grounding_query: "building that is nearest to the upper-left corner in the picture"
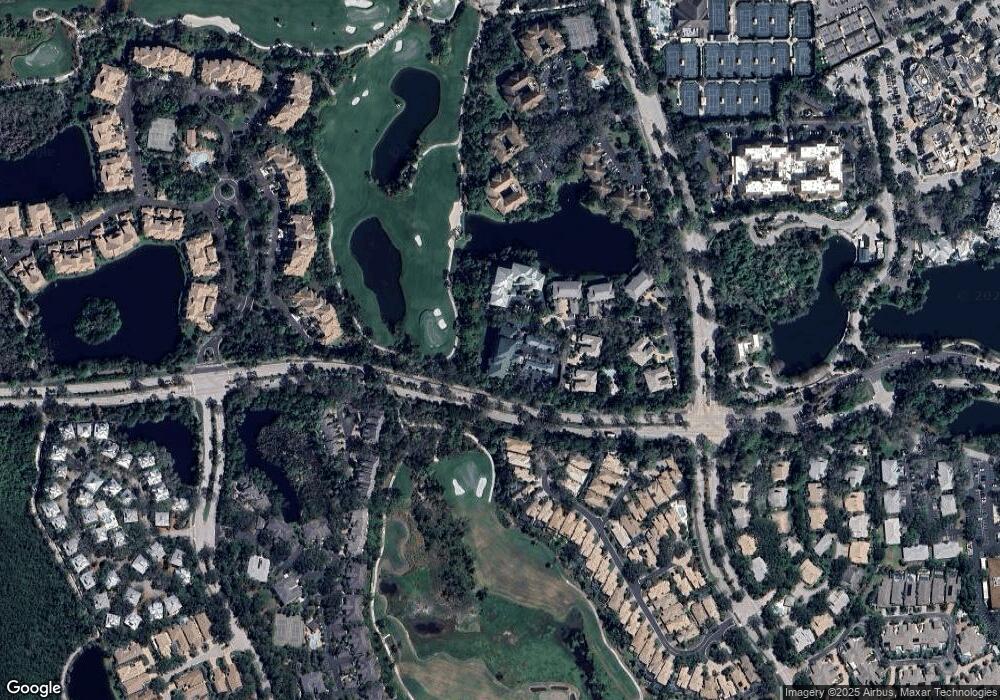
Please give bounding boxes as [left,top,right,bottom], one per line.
[92,64,127,103]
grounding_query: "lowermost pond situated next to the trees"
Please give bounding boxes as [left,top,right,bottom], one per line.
[64,645,118,700]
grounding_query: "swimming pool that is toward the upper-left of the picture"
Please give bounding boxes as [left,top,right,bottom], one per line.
[181,147,215,171]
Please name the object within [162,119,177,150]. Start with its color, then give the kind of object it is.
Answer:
gray tennis court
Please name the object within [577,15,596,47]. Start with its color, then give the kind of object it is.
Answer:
gray tennis court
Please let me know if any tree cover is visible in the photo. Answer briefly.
Yes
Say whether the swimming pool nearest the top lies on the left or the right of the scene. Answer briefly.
right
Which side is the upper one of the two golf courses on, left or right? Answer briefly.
left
